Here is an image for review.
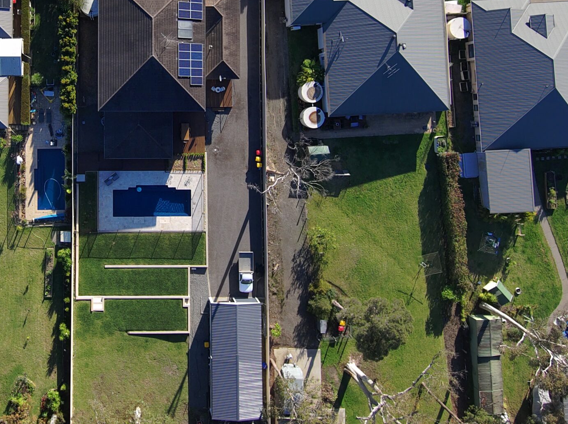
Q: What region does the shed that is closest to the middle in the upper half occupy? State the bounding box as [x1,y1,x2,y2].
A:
[305,145,330,162]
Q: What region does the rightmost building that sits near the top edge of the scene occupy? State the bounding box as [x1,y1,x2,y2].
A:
[465,0,568,152]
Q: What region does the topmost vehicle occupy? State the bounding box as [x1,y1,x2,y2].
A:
[237,250,255,292]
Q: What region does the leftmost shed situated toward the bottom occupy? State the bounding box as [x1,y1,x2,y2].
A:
[209,297,263,422]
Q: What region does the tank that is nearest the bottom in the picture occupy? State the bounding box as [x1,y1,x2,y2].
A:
[297,104,324,130]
